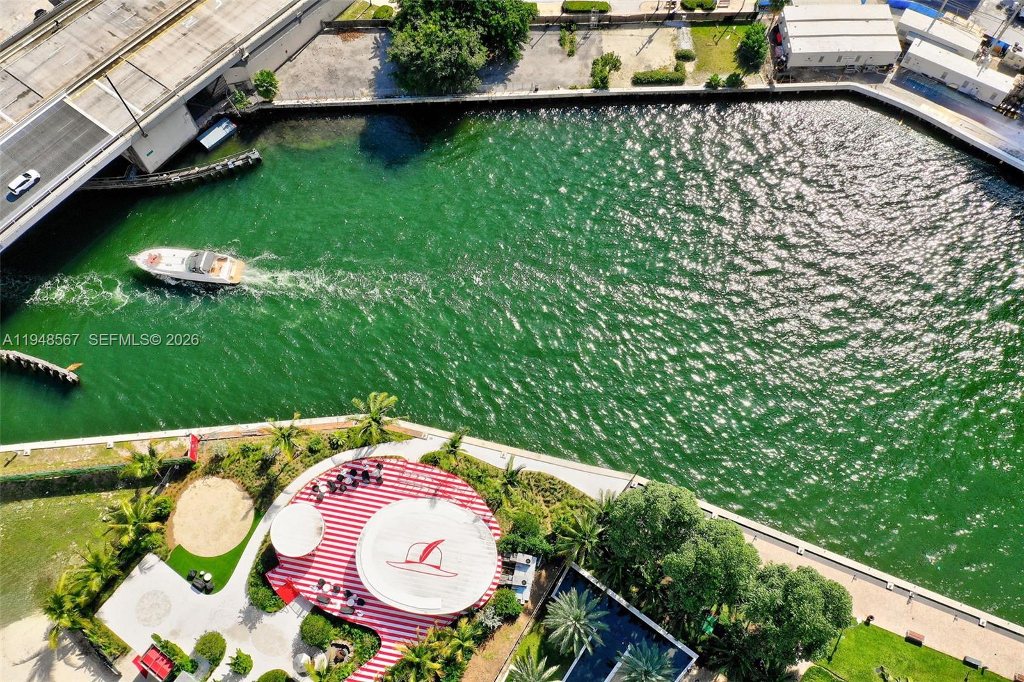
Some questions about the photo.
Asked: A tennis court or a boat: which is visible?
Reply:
boat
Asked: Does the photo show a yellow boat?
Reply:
No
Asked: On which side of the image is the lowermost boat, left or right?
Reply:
left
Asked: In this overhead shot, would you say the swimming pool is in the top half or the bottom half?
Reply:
bottom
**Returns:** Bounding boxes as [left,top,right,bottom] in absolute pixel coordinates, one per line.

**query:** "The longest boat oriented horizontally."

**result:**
[128,247,248,286]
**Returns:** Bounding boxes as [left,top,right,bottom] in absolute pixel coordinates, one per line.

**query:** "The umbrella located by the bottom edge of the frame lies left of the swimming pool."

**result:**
[292,650,316,676]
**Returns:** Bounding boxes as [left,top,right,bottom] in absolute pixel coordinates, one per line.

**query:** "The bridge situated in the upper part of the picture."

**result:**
[0,0,356,257]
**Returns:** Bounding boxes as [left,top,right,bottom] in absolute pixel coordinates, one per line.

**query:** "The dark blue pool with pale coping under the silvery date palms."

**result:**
[552,564,698,682]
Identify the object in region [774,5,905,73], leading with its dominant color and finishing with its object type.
white trailer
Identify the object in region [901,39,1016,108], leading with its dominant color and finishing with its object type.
white trailer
